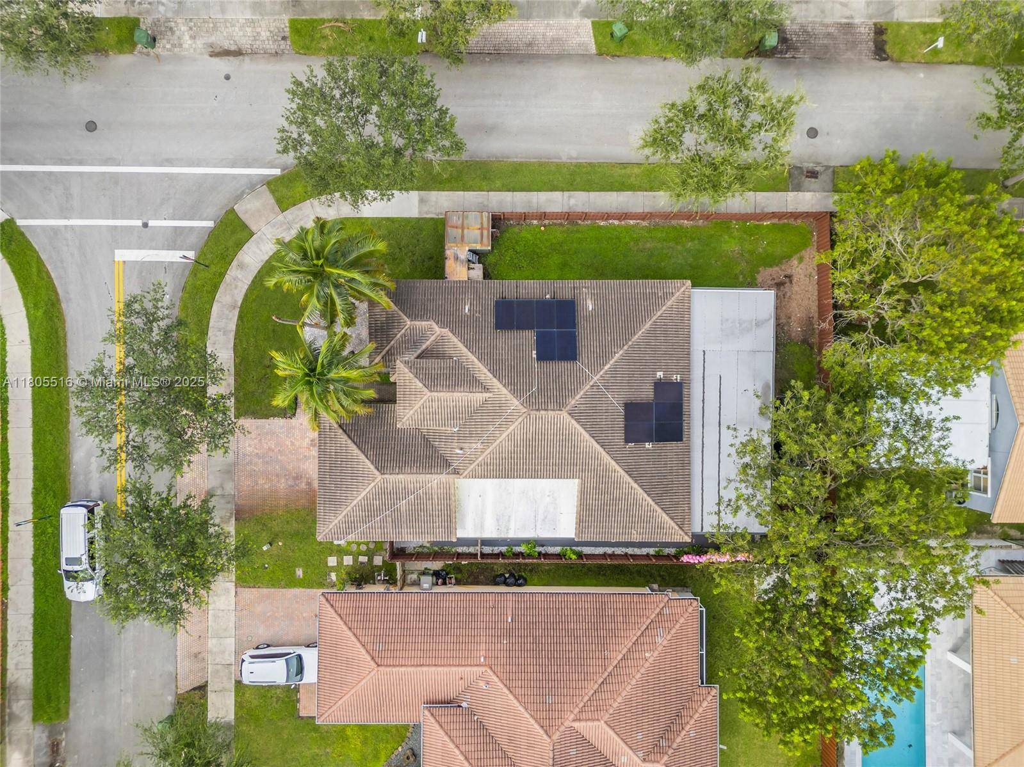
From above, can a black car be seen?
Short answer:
No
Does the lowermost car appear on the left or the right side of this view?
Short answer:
left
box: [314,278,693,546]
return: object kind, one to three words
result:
house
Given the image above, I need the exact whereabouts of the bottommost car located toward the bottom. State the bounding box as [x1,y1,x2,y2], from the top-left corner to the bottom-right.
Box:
[238,642,316,690]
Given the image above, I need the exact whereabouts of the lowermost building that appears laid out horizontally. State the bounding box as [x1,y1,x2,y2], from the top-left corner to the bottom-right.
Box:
[315,585,720,767]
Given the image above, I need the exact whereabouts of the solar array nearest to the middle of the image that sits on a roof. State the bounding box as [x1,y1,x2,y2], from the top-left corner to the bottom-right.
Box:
[496,295,577,363]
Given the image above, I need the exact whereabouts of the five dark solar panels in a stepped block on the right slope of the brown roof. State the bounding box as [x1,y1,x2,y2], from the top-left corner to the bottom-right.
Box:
[624,374,683,446]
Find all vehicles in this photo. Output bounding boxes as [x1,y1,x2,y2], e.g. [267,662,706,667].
[58,496,113,604]
[238,642,316,690]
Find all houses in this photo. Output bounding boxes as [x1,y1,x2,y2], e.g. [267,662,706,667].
[954,326,1024,521]
[315,585,720,767]
[314,278,693,546]
[953,575,1024,767]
